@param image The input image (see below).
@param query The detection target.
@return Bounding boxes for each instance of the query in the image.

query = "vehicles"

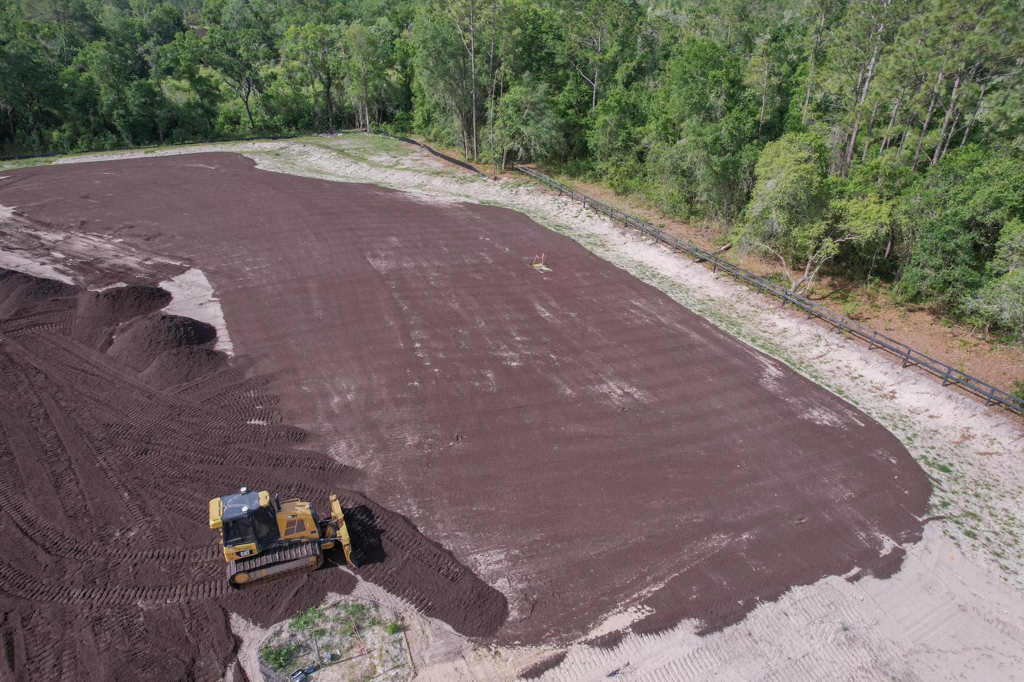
[212,491,365,591]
